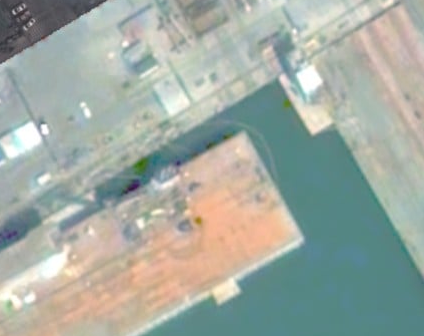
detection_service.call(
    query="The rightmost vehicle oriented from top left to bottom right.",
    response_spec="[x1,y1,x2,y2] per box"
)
[79,101,93,119]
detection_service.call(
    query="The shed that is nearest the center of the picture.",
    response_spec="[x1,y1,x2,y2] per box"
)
[153,75,191,117]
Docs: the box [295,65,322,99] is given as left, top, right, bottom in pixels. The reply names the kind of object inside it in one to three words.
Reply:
building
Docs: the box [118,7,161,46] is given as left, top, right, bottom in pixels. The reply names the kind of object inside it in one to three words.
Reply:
building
